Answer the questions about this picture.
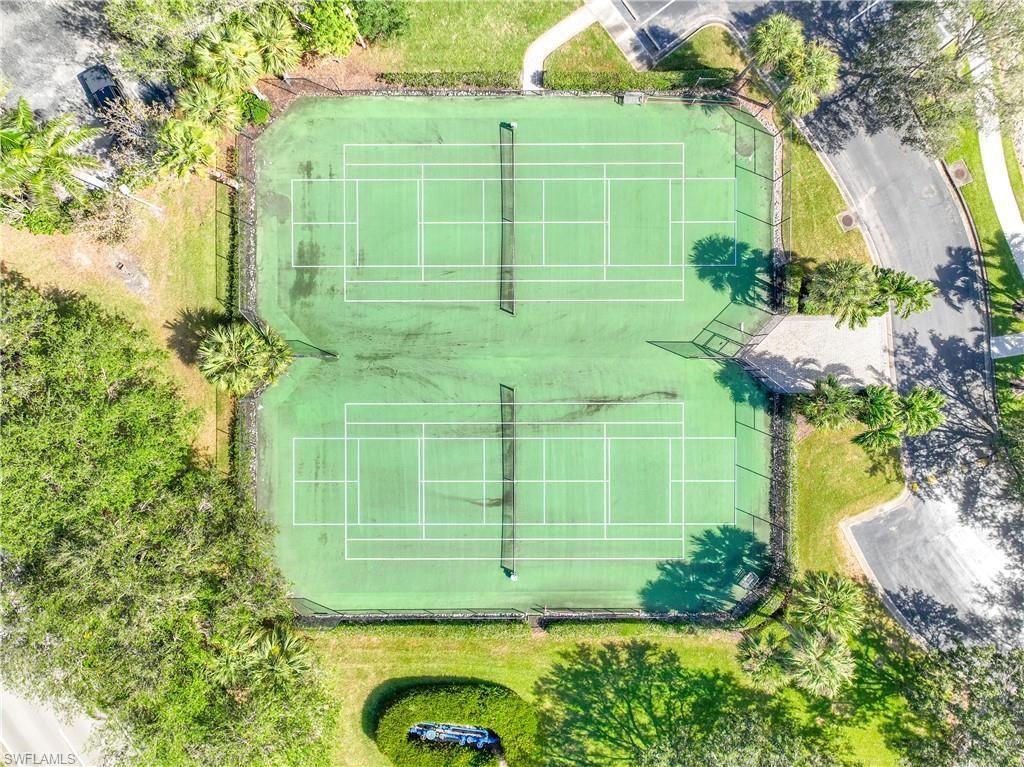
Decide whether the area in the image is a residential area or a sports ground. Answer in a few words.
sports ground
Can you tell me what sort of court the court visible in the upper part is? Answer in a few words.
tennis court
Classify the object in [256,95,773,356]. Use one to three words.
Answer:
tennis court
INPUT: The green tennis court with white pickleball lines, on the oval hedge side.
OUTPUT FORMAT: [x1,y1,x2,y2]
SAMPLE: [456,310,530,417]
[256,356,773,614]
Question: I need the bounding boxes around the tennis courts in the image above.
[256,356,773,614]
[256,95,773,356]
